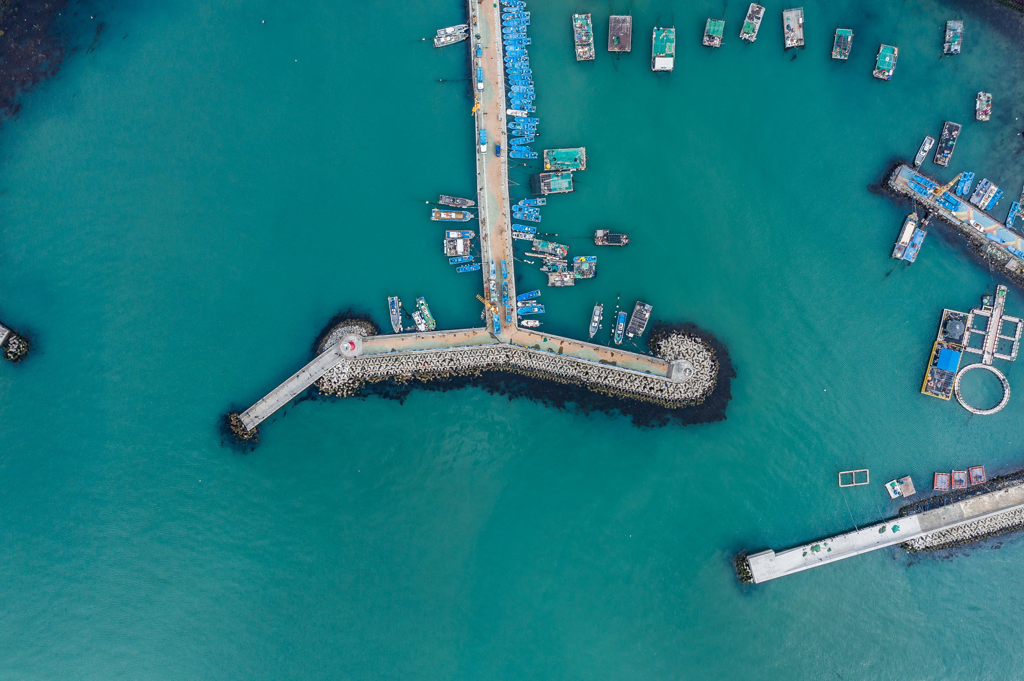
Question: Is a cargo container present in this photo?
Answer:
No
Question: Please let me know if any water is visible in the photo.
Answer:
Yes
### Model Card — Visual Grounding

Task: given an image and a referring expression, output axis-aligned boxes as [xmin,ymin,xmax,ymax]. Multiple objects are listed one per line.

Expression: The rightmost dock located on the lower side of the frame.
[746,483,1024,583]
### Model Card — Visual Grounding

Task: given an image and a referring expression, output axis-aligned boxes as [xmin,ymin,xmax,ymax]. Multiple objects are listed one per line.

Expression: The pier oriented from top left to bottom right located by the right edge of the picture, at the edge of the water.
[892,165,1024,265]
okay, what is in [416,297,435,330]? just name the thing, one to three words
boat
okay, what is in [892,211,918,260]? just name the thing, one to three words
boat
